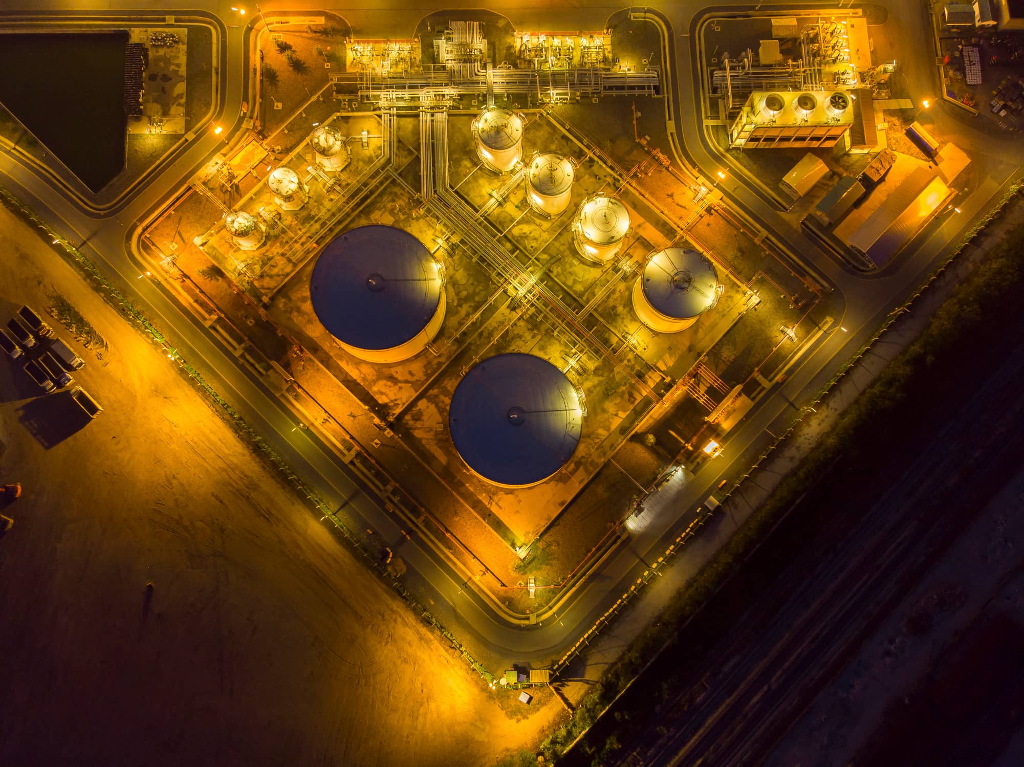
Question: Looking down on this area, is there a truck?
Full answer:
Yes, the image includes a truck.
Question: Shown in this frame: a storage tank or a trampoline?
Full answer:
I can see a storage tank in this picture.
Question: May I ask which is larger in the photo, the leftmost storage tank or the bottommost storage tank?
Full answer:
The bottommost storage tank covers a greater area than the leftmost storage tank.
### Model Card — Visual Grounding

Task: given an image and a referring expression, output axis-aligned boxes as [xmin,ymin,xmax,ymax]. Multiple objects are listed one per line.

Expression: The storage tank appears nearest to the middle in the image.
[448,353,588,492]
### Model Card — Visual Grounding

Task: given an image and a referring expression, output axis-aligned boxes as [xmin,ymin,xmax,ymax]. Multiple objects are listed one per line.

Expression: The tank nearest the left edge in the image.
[219,208,270,254]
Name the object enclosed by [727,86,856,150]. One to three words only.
cooling tower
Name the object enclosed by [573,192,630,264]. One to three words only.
storage tank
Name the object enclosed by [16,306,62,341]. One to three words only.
truck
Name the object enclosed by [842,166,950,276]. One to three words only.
building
